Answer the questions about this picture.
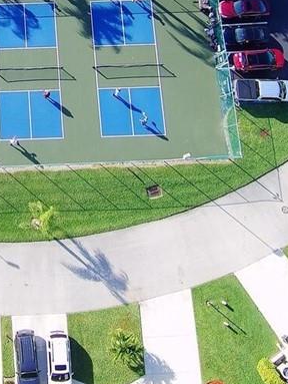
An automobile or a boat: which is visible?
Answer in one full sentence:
This aerial view contains an automobile.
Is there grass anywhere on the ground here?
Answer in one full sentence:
Yes, there's grass in this view.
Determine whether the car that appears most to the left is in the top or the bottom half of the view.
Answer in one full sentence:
You can find the car that appears most to the left in the bottom half.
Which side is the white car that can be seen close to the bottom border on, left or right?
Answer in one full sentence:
The white car that can be seen close to the bottom border is on the left side of the image.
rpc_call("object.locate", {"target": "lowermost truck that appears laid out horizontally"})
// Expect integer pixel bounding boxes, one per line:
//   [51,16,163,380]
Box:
[232,78,288,103]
